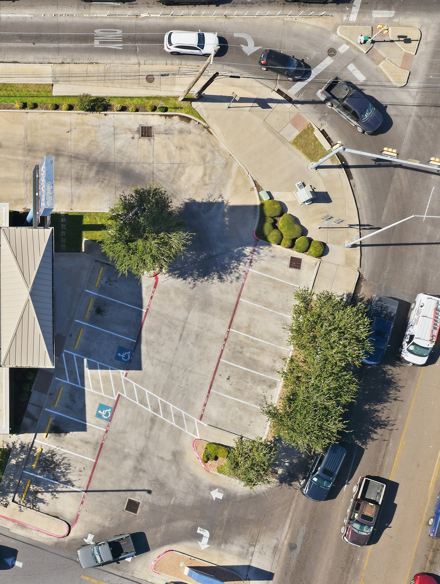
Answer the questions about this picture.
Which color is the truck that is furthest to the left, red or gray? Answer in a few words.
gray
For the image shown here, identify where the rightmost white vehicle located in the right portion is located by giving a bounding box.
[401,292,440,364]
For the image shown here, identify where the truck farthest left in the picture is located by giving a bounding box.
[77,532,139,569]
